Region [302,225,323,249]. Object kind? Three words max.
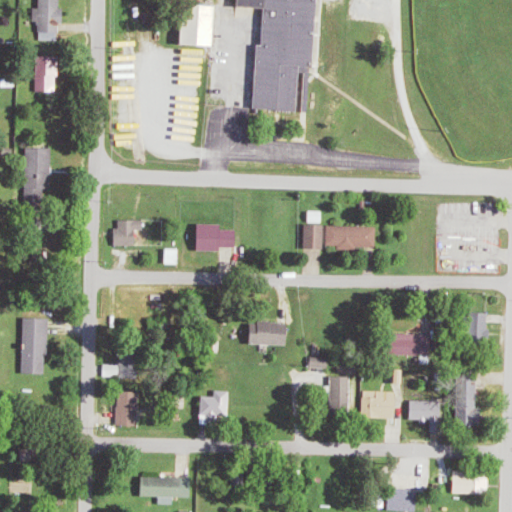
building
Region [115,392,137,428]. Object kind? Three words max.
house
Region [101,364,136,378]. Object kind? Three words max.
house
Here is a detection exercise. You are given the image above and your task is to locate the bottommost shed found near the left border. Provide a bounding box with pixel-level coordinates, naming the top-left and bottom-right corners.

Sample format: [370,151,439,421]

[8,482,32,495]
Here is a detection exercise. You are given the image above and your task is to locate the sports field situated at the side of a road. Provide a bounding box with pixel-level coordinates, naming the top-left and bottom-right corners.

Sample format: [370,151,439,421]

[412,0,512,162]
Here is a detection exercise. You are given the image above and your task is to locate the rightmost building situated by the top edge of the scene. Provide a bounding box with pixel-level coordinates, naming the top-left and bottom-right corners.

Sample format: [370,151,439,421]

[236,0,315,116]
